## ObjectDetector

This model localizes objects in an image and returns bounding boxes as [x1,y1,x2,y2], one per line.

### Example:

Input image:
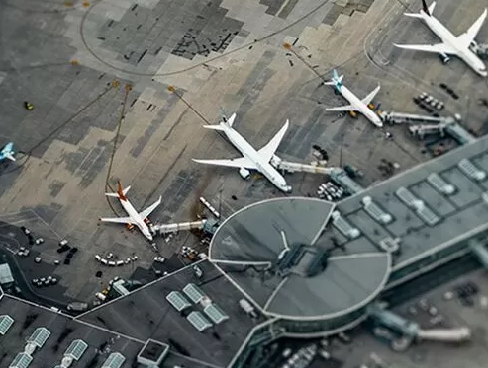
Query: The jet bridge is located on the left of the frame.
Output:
[148,219,216,242]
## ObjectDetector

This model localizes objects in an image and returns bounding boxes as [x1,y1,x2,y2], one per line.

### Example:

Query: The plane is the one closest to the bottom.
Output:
[99,192,161,242]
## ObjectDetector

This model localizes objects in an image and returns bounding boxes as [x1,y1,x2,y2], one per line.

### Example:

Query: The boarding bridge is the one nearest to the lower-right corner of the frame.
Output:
[411,329,478,349]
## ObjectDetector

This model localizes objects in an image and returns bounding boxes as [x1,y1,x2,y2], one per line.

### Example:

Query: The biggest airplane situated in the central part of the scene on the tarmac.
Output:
[196,112,292,192]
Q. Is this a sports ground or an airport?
airport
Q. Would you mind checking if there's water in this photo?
No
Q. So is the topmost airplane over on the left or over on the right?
right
